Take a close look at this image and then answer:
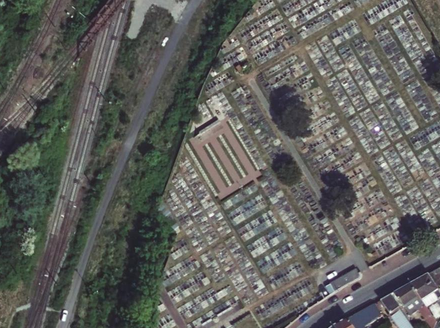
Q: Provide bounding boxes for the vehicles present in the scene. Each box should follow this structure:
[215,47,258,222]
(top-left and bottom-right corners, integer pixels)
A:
[62,310,68,320]
[344,296,354,304]
[300,314,310,322]
[162,37,168,46]
[328,271,338,278]
[402,248,412,256]
[352,283,362,290]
